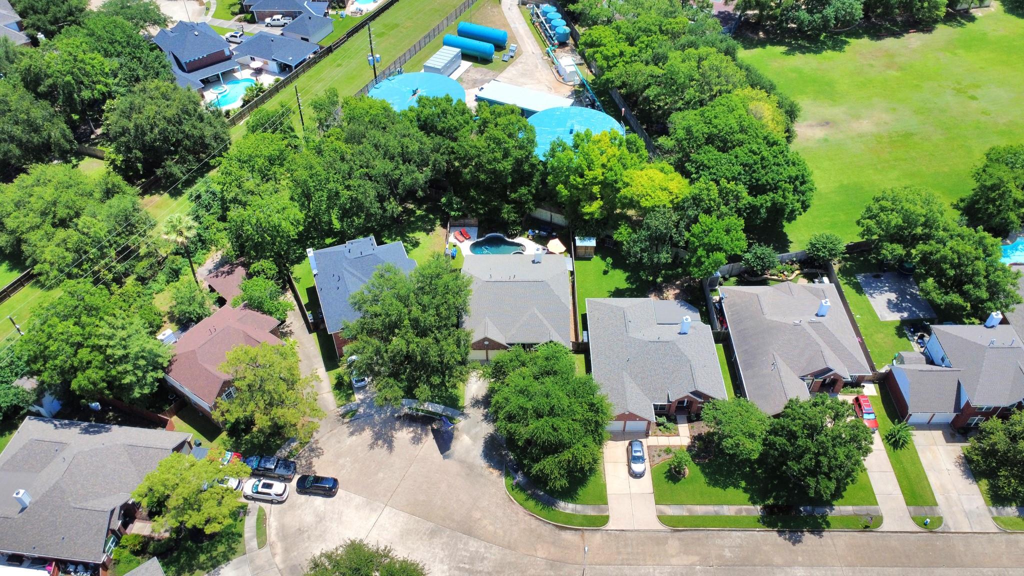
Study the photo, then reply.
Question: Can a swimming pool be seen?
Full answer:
Yes, I can see a swimming pool in this picture.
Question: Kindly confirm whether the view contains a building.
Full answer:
Yes, there's a building down there.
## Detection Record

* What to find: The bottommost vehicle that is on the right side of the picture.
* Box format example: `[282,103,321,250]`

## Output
[626,438,649,476]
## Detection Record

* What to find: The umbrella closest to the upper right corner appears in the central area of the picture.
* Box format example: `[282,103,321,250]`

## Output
[546,239,566,255]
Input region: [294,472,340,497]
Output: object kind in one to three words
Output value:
car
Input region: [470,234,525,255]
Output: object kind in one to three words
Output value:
swimming pool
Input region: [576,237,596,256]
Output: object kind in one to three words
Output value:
shed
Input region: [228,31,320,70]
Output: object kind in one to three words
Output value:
house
